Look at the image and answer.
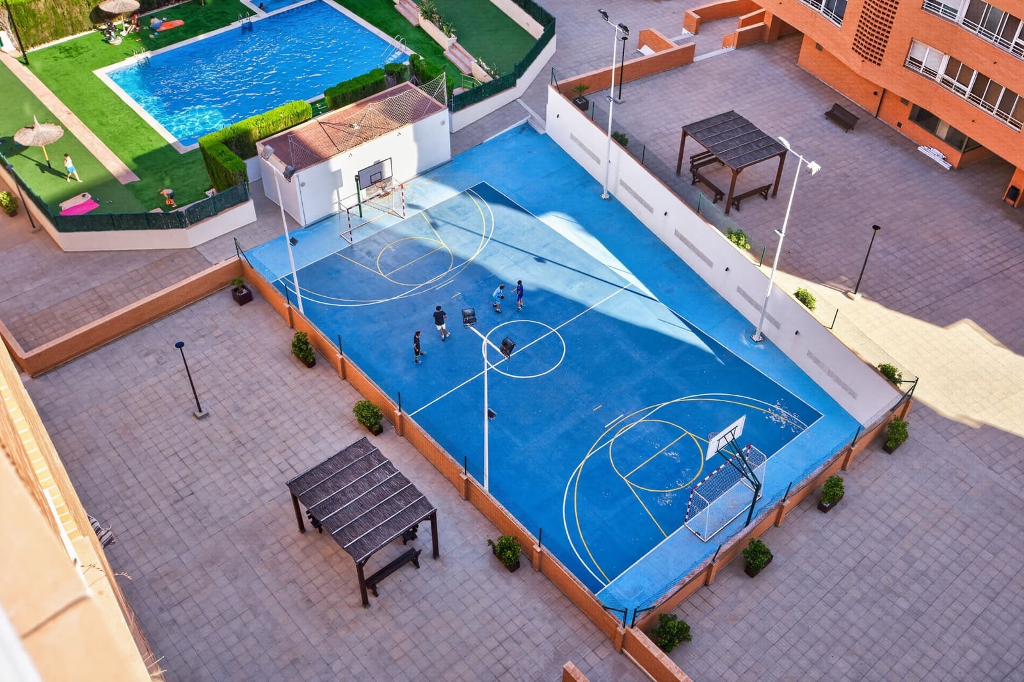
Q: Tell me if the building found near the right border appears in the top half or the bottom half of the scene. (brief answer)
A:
top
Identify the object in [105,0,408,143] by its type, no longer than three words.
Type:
swimming pool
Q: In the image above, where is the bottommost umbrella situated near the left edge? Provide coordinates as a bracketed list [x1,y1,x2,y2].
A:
[10,117,64,168]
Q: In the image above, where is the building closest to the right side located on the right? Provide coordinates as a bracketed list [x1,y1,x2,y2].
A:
[751,0,1024,208]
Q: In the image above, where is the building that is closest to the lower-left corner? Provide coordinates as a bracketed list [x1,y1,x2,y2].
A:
[0,331,168,682]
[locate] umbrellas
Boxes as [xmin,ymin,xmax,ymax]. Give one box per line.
[10,117,64,168]
[93,0,138,33]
